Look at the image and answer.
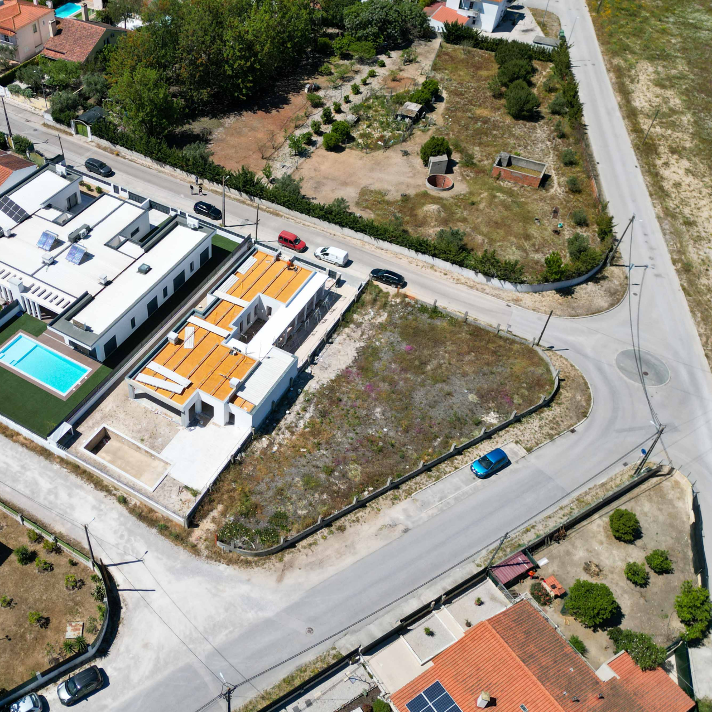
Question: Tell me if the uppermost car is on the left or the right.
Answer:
left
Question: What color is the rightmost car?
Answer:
blue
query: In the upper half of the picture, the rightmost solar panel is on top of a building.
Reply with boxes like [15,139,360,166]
[66,242,86,265]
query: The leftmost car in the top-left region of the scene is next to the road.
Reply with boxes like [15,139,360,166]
[82,151,114,175]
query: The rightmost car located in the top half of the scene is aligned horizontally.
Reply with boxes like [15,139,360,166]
[370,266,407,285]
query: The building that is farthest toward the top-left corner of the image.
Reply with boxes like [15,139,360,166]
[0,0,53,60]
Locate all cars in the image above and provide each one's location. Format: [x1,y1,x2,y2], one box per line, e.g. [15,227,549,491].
[469,442,516,478]
[277,222,307,249]
[0,687,43,712]
[82,151,114,175]
[192,194,222,216]
[370,266,407,285]
[54,661,107,707]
